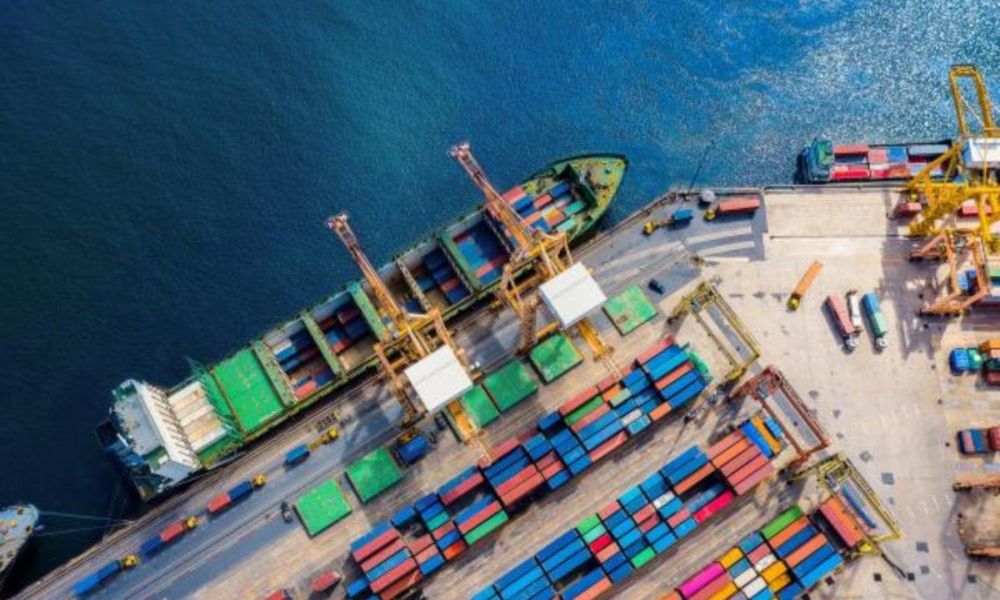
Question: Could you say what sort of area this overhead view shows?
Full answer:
The picture captures a port.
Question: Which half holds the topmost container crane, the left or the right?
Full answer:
The topmost container crane is on the right side of the image.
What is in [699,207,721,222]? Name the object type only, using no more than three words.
vehicle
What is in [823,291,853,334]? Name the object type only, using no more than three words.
shipping container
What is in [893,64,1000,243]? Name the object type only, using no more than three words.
container crane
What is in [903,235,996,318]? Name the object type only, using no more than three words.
container crane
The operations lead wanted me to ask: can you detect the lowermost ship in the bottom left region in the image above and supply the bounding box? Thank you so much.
[0,509,47,579]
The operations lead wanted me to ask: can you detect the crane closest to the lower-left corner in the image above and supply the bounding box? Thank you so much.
[319,206,489,460]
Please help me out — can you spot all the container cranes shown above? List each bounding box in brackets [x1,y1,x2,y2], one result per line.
[660,280,769,390]
[903,235,996,318]
[319,206,489,460]
[893,64,1000,243]
[720,367,840,477]
[446,133,622,370]
[782,453,918,566]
